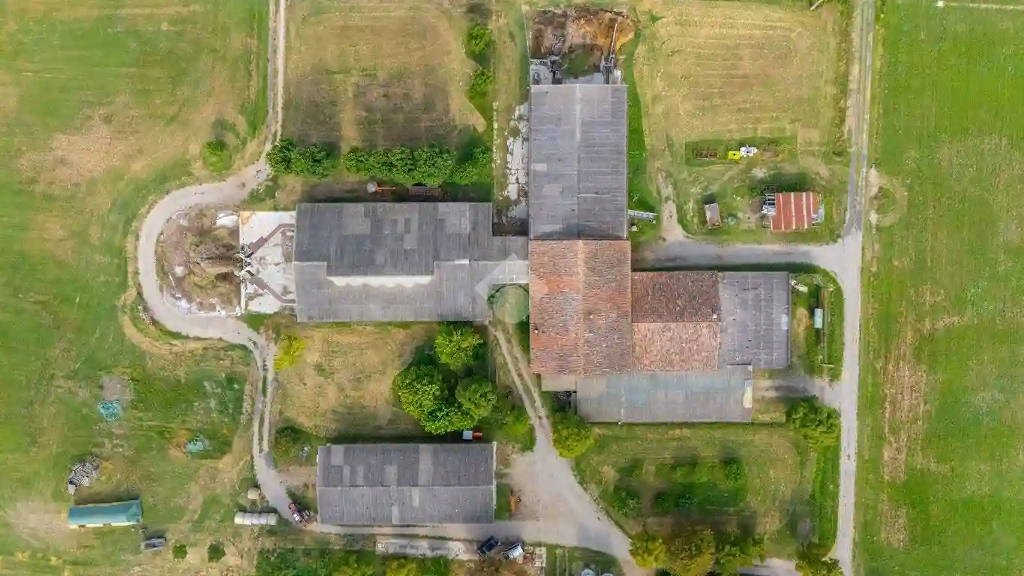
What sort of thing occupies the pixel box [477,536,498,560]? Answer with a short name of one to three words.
car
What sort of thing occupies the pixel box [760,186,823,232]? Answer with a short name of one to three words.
shed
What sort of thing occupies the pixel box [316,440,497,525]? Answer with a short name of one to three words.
barn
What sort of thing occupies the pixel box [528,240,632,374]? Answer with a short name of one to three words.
house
